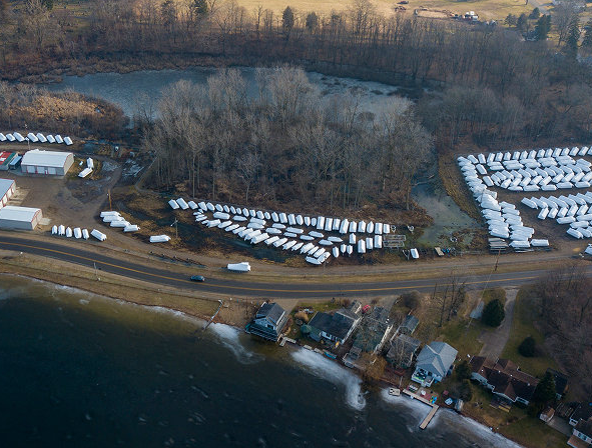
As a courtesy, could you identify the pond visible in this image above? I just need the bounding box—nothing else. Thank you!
[0,67,426,142]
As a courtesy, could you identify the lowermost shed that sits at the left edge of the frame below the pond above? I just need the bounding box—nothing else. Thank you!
[0,204,41,230]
